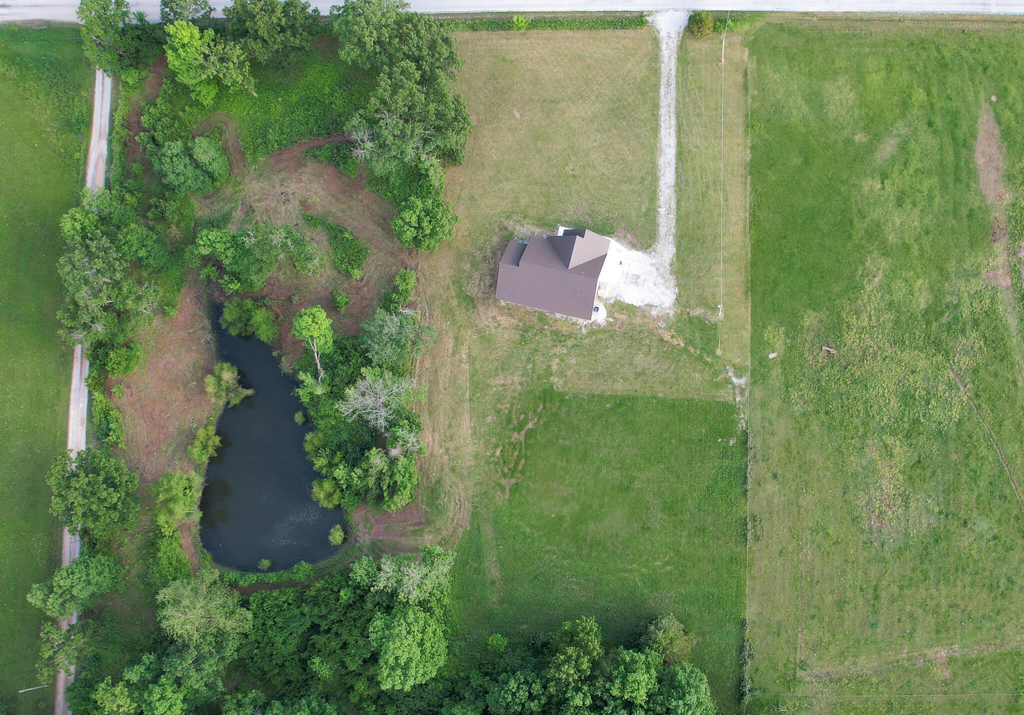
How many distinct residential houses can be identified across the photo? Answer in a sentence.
In total, there is 1 residential house in the scene.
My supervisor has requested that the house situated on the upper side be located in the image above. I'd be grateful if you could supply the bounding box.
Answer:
[496,226,615,327]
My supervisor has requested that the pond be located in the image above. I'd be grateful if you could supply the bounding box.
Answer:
[202,300,348,572]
